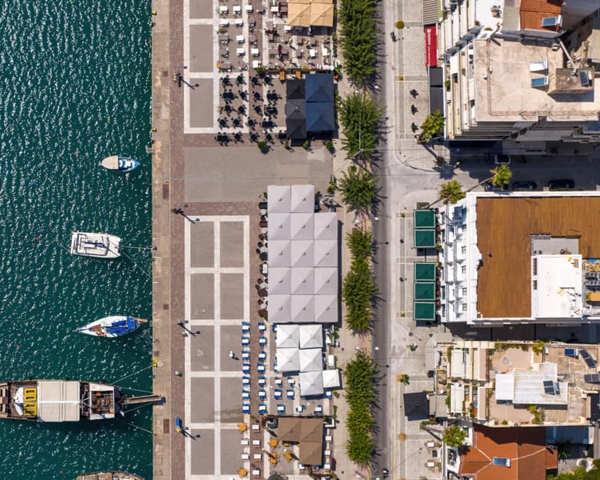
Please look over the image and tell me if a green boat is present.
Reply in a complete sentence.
No, there's no green boat here.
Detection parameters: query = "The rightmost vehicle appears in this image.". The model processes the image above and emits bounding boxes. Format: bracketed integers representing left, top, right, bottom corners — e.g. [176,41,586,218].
[547,175,580,190]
